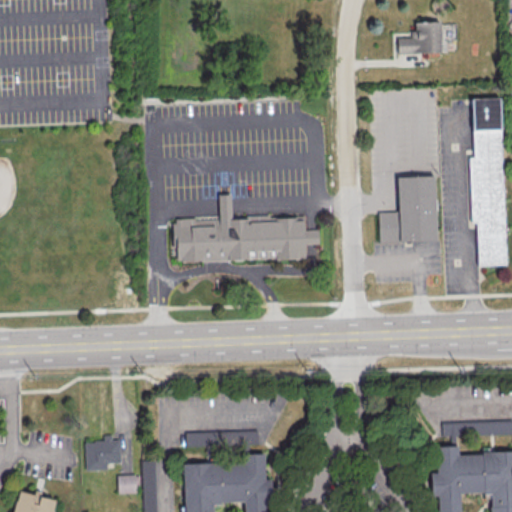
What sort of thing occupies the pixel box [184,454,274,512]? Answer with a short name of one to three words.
building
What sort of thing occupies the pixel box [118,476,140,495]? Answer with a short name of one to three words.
building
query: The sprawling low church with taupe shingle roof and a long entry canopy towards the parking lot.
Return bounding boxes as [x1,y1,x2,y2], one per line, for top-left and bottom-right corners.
[175,190,320,264]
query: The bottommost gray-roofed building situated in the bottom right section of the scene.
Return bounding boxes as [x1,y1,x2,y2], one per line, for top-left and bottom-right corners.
[434,447,512,512]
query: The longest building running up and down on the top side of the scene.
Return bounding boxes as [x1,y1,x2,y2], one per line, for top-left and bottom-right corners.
[470,98,509,268]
